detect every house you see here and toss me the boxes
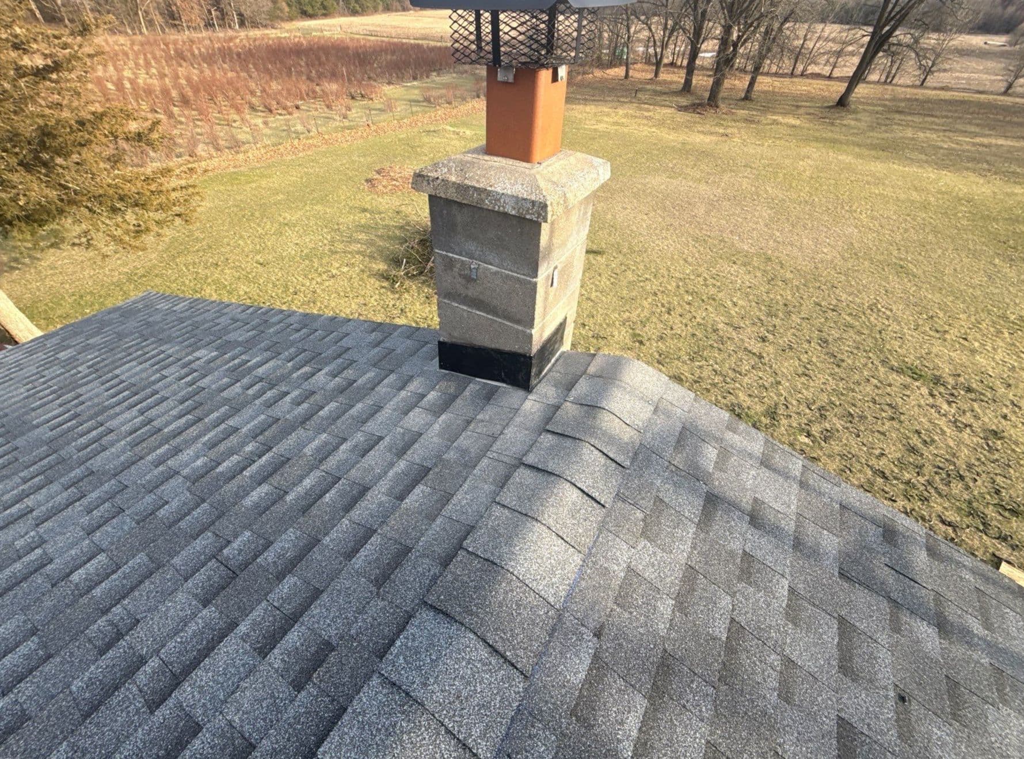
[0,291,1024,759]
